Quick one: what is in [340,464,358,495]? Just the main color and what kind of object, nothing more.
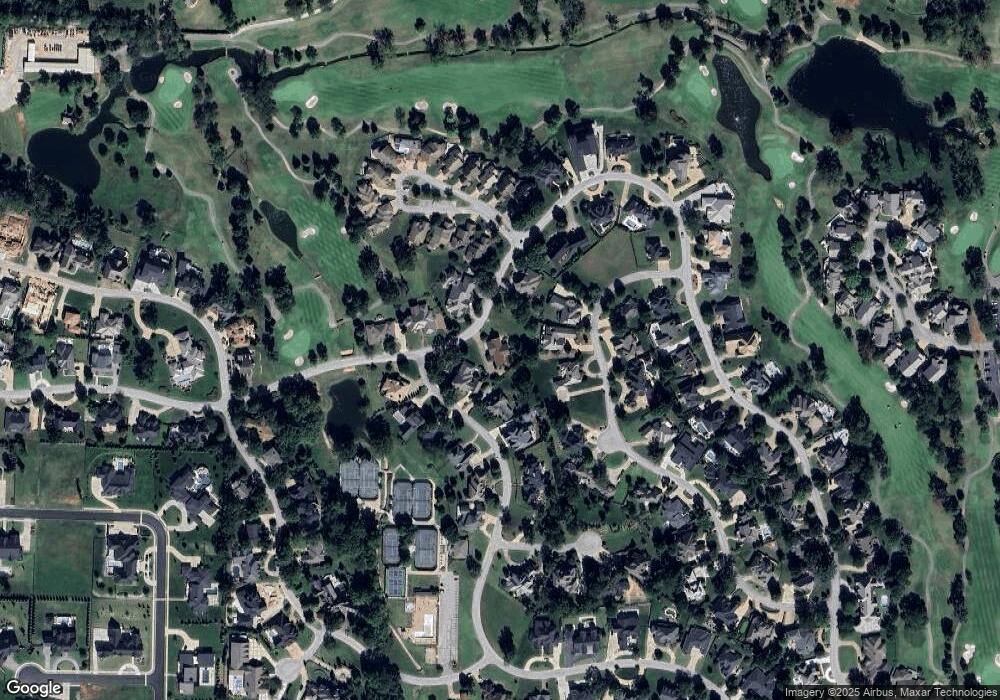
gray tennis court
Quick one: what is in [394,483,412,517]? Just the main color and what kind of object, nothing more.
gray tennis court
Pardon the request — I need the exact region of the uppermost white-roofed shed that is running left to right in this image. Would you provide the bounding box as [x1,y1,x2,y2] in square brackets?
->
[23,43,94,72]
